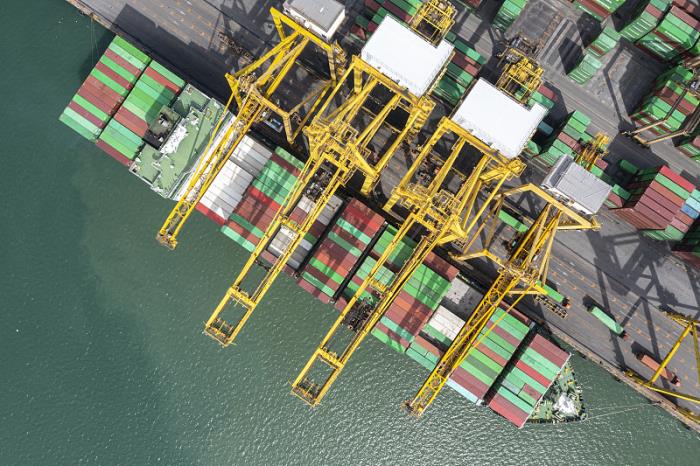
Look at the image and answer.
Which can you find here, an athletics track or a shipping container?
shipping container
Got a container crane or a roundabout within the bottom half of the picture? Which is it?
container crane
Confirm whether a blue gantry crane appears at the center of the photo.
No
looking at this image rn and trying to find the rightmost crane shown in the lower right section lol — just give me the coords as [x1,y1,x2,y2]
[619,309,700,427]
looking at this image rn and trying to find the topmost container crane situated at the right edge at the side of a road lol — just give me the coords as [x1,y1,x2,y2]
[619,58,700,150]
